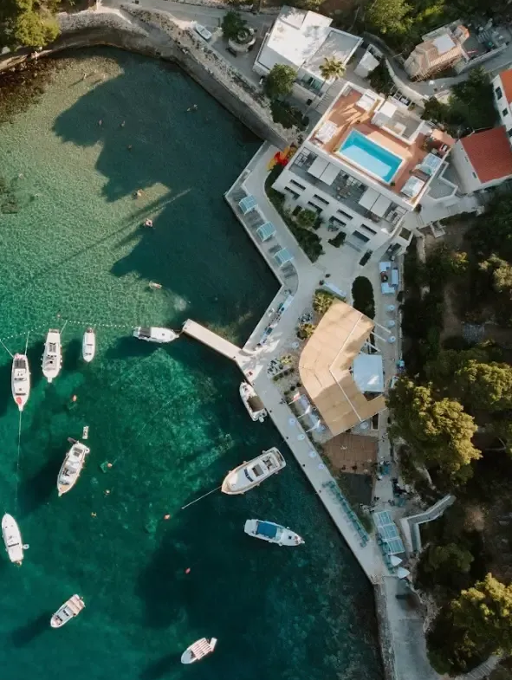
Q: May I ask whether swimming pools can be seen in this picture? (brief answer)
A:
Yes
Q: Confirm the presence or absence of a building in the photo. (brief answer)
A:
Yes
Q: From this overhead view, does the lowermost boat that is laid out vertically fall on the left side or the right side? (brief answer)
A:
left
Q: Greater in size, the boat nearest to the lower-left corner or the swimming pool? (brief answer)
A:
the swimming pool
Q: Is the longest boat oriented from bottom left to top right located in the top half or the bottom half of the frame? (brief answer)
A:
bottom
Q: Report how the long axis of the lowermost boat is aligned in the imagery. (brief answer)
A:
on a diagonal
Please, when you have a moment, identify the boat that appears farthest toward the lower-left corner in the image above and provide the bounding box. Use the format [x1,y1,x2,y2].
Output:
[53,593,85,625]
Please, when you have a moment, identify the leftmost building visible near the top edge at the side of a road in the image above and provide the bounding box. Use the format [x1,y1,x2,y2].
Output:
[247,5,363,104]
